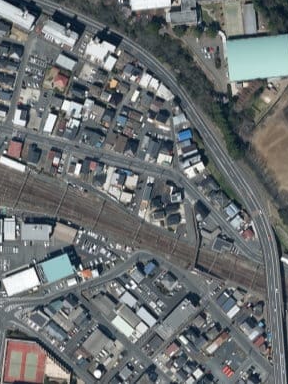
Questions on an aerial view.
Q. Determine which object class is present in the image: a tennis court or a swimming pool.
tennis court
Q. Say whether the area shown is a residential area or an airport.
residential area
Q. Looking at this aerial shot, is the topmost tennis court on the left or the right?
right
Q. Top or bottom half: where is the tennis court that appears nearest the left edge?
bottom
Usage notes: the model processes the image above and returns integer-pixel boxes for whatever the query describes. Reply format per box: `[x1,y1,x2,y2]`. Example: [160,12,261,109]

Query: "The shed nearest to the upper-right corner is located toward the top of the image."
[242,3,256,31]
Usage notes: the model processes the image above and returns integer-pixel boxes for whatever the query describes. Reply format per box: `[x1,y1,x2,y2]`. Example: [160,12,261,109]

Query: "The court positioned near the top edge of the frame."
[222,2,243,32]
